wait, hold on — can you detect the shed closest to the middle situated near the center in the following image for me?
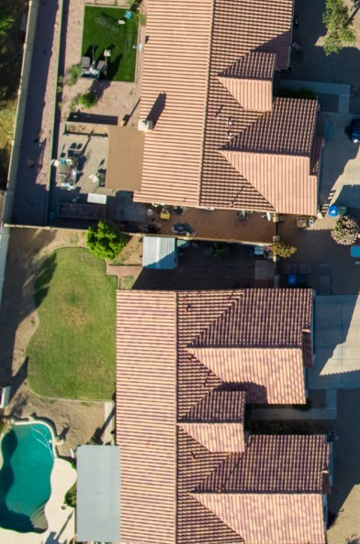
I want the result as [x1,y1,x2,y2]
[134,235,177,268]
